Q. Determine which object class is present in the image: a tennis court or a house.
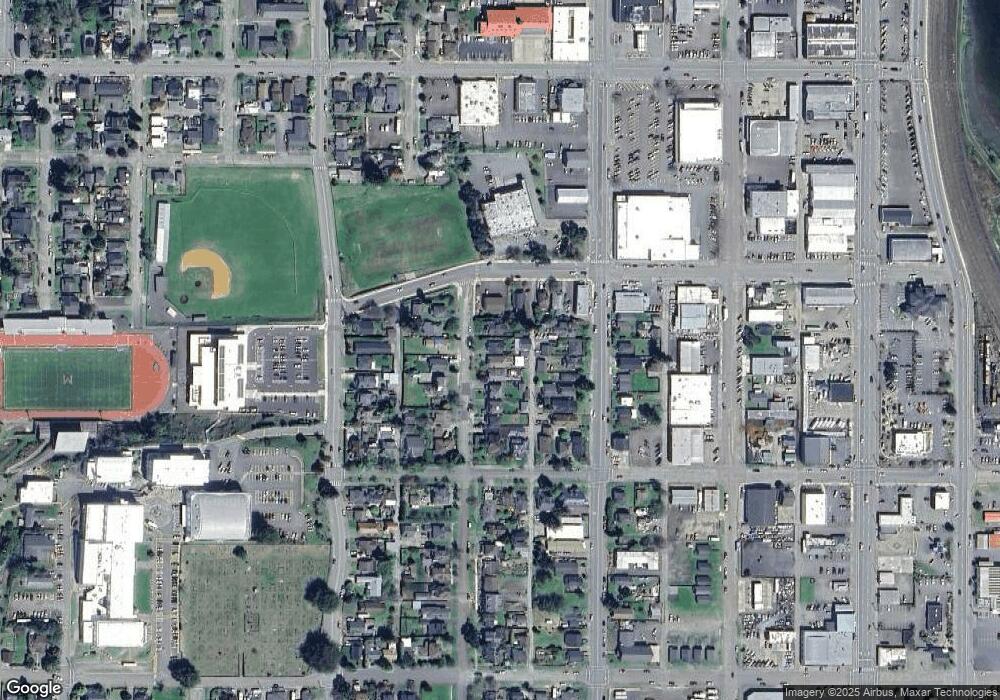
house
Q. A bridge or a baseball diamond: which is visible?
baseball diamond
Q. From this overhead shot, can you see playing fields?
Yes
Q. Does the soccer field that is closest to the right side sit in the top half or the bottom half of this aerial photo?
top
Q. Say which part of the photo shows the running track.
left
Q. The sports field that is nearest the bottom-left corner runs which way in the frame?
horizontally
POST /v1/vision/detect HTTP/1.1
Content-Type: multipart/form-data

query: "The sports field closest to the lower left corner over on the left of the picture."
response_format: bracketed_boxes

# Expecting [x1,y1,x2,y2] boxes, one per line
[3,347,134,410]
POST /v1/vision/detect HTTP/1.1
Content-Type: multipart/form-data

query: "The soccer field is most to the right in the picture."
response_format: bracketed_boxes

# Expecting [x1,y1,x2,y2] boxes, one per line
[334,185,479,298]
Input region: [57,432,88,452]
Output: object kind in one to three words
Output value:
building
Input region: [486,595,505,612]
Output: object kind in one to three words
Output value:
house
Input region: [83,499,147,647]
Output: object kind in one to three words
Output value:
building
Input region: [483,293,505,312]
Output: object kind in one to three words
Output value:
house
